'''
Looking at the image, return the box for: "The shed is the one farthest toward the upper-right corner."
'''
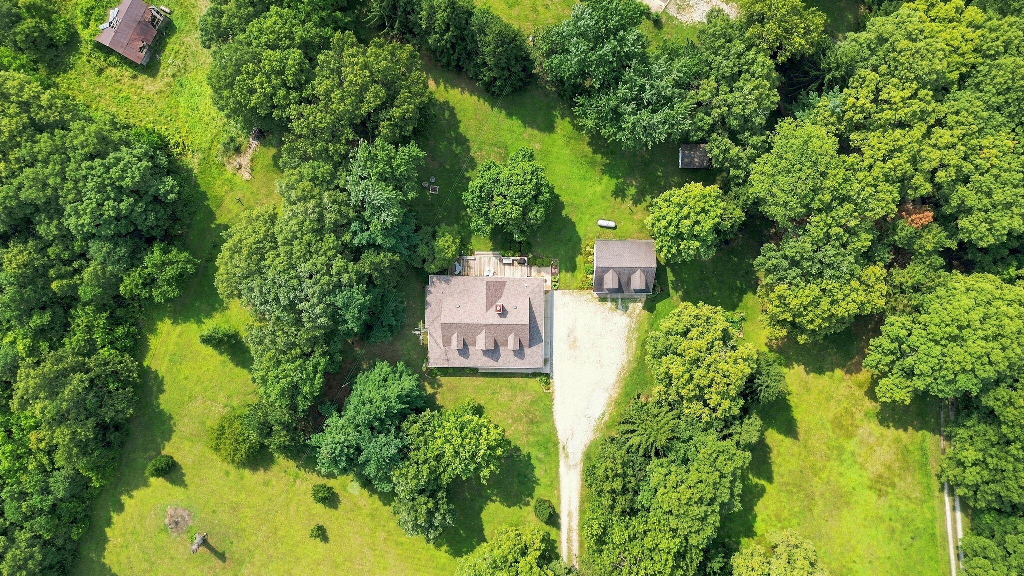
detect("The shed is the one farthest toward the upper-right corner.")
[678,144,712,169]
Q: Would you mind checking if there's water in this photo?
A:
No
